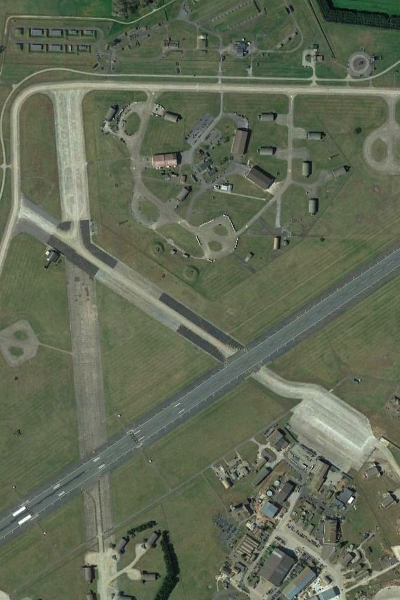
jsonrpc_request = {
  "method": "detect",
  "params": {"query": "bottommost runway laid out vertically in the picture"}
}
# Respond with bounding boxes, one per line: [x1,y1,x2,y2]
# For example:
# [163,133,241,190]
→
[66,258,115,554]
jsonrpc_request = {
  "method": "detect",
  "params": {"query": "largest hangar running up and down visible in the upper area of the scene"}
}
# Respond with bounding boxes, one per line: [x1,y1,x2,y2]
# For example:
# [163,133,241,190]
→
[231,127,248,155]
